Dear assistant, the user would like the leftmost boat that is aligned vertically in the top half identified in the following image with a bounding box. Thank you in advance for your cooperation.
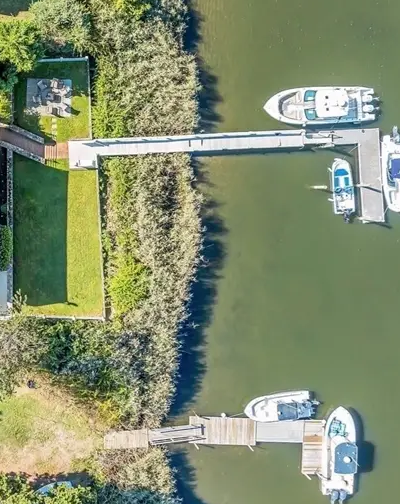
[324,158,352,220]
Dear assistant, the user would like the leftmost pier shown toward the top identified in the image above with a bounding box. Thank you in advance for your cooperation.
[69,129,306,169]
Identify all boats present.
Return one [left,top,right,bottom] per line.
[380,131,400,212]
[322,405,359,501]
[263,86,379,128]
[243,392,316,422]
[324,158,352,220]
